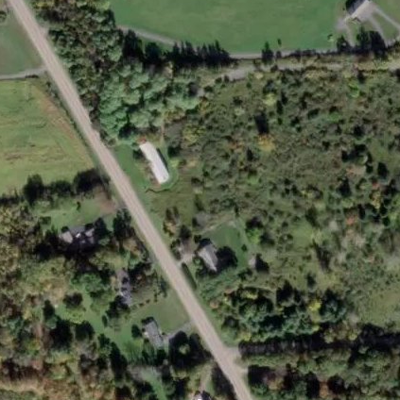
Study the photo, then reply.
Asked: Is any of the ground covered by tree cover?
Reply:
Yes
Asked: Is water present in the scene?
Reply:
No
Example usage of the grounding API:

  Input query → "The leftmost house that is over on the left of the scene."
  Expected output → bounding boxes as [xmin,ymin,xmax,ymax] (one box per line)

[57,226,95,248]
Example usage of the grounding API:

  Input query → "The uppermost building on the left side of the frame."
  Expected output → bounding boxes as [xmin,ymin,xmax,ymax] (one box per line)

[140,141,170,184]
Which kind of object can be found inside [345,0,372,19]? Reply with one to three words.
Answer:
barn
